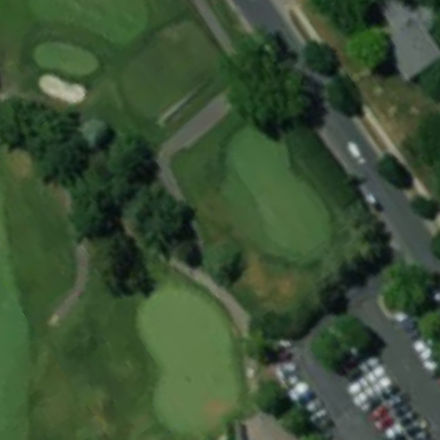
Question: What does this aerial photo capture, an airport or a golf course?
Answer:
golf course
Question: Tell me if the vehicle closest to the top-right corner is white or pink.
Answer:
white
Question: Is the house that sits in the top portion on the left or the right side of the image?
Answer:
right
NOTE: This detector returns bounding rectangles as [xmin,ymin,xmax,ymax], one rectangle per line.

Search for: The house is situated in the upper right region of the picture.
[380,0,440,80]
